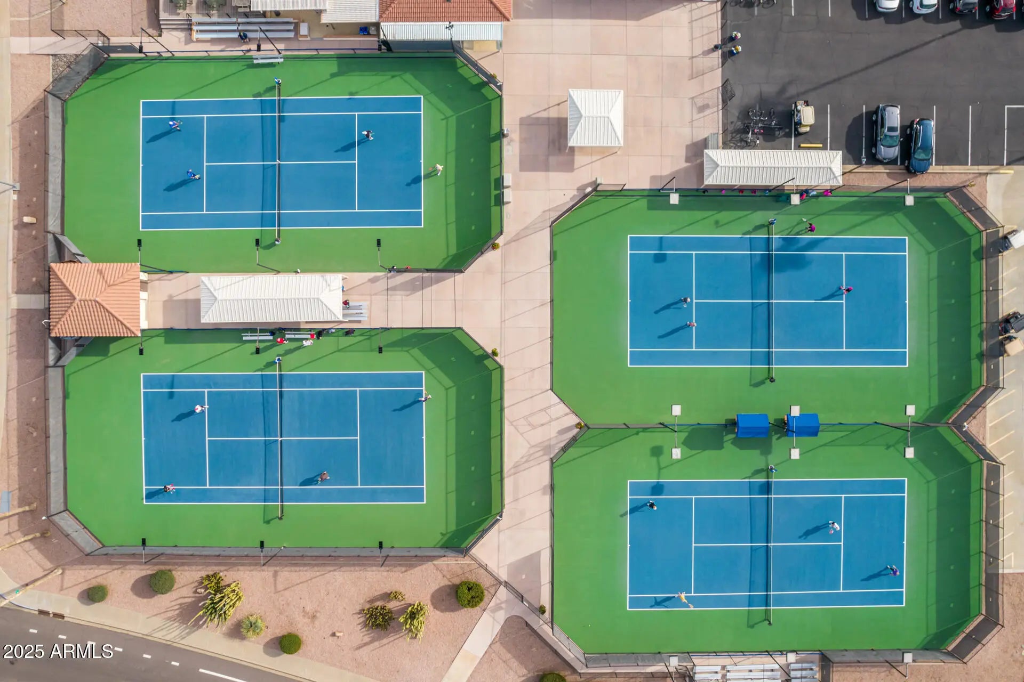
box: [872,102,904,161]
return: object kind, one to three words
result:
car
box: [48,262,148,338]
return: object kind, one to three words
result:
building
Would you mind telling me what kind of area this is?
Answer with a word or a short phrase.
sports ground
